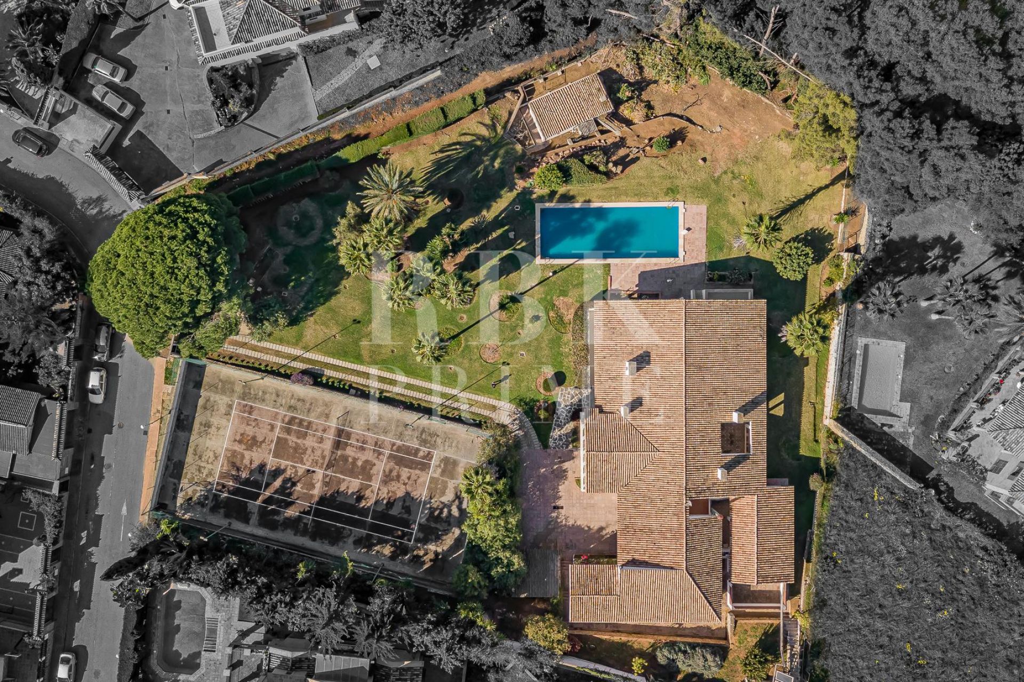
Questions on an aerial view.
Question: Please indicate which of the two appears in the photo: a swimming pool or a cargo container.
swimming pool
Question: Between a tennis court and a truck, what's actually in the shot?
tennis court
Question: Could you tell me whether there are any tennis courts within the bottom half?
Yes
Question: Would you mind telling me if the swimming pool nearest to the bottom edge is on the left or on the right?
left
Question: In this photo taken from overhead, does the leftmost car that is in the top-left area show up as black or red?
black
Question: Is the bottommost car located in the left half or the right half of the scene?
left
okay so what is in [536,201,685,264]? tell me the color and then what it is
blue swimming pool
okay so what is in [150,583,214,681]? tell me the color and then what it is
gray swimming pool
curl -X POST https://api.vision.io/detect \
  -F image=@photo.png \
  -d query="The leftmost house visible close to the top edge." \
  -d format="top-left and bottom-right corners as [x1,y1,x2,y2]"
[183,0,363,72]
